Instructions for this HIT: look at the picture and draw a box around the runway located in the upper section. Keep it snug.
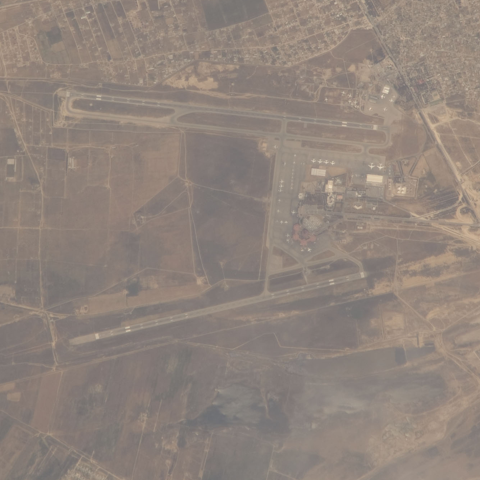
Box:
[58,90,388,132]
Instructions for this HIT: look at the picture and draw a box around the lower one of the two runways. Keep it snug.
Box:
[69,272,367,345]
